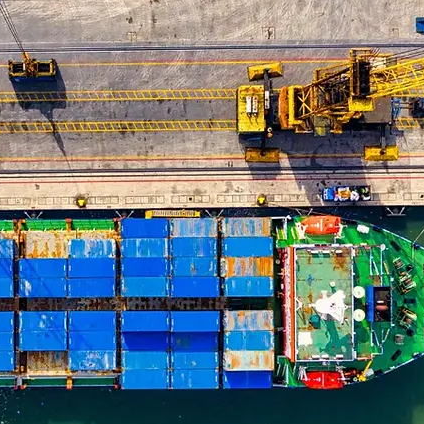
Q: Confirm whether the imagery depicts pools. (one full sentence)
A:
No, the photo shows no pool.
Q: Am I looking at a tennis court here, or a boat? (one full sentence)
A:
This aerial view contains a boat.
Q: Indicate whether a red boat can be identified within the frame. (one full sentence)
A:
Yes, there's a red boat here.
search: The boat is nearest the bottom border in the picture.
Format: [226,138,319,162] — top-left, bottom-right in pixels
[300,369,346,390]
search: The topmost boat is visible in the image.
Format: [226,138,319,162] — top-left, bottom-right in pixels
[297,214,343,235]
